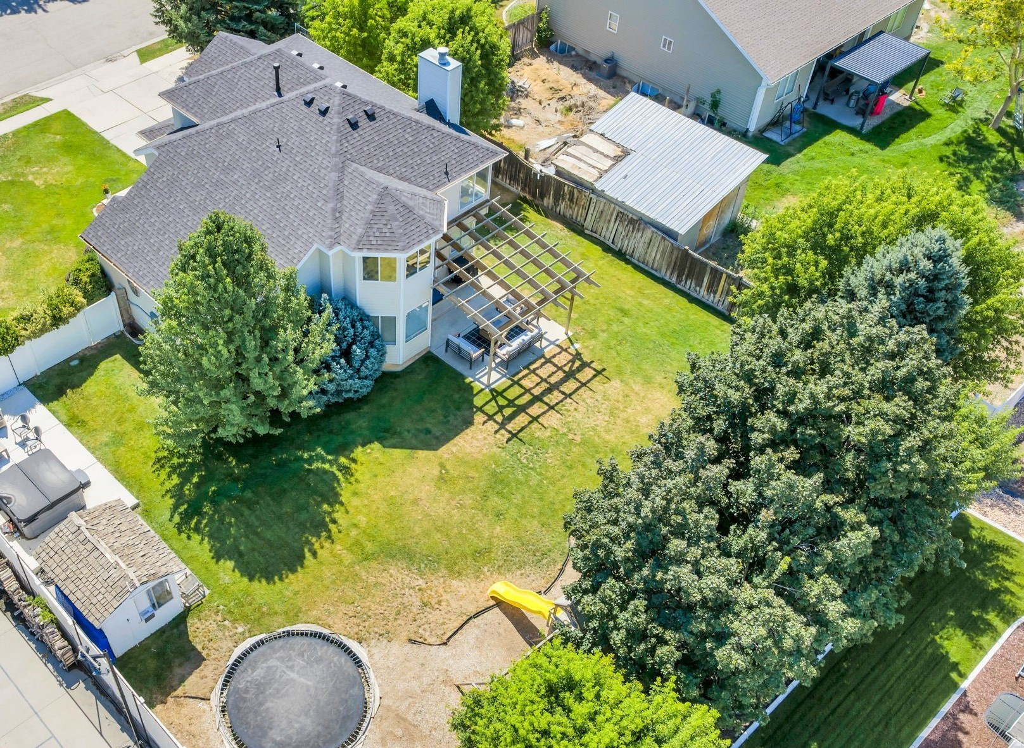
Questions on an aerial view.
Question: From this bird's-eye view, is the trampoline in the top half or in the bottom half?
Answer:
bottom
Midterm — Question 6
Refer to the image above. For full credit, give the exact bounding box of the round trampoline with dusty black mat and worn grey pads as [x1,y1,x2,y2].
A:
[212,627,381,748]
